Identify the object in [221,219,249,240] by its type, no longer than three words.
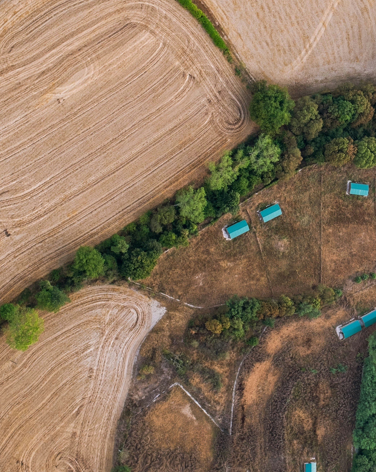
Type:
shed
